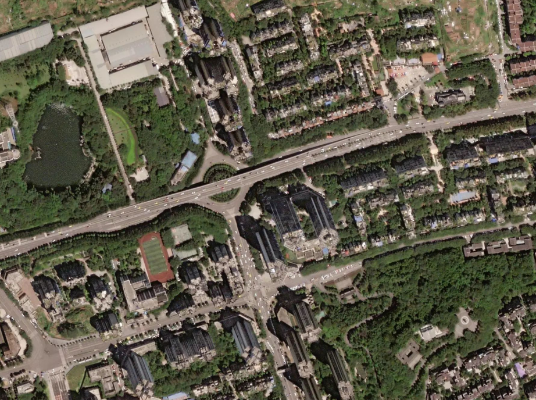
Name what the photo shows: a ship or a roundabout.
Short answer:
roundabout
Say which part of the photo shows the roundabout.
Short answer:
center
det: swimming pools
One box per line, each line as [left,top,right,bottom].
[450,188,480,205]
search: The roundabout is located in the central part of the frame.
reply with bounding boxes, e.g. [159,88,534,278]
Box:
[191,150,251,215]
